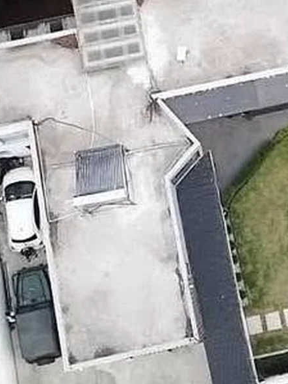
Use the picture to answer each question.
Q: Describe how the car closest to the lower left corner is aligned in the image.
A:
vertically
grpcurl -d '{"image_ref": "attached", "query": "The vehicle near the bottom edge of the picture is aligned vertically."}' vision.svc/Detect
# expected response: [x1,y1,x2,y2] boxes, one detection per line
[8,264,64,372]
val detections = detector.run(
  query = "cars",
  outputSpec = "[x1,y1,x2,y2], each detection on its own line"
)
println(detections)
[8,264,64,372]
[0,171,47,255]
